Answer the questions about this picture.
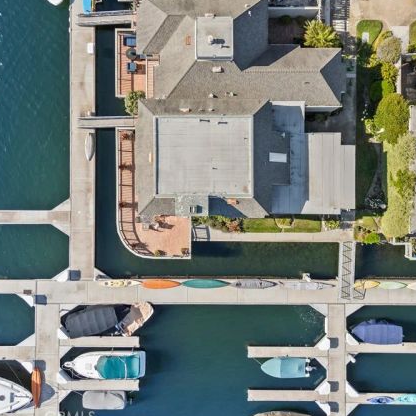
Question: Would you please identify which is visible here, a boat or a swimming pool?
boat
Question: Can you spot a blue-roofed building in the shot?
No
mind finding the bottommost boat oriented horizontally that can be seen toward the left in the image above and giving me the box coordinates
[72,386,135,410]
